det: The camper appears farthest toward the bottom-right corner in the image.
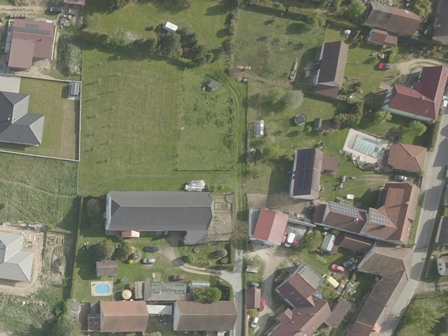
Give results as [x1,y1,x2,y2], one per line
[436,257,448,276]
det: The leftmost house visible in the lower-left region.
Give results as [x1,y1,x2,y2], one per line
[0,232,33,283]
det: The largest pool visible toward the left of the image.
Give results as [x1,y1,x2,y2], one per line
[93,282,111,294]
